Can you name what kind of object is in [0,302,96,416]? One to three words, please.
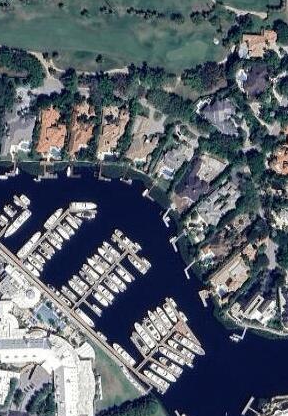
building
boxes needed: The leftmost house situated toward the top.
[4,106,36,141]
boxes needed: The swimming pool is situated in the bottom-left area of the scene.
[33,303,65,329]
